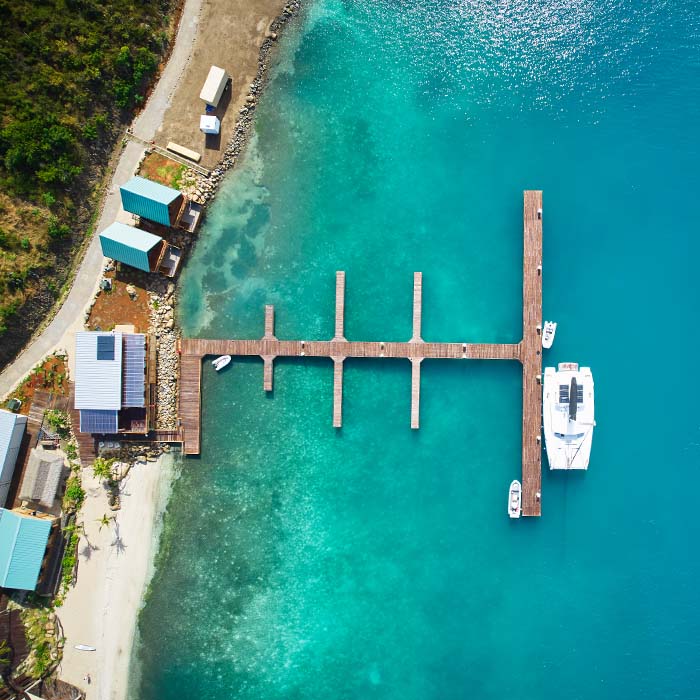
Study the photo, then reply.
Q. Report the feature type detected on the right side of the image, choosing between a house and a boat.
boat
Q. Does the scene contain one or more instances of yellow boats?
No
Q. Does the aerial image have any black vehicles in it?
No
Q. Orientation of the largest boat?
from top to bottom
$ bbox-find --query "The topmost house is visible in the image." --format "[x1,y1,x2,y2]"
[120,175,207,234]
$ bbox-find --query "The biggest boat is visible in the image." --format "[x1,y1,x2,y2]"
[540,362,596,470]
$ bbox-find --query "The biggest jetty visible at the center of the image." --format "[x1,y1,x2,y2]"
[180,191,543,516]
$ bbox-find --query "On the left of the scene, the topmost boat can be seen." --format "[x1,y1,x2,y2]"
[211,356,230,372]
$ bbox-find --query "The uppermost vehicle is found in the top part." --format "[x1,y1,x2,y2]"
[196,60,228,111]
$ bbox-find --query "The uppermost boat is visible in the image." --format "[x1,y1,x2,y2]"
[542,321,558,347]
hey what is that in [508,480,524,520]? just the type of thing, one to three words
boat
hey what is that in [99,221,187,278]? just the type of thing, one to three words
house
